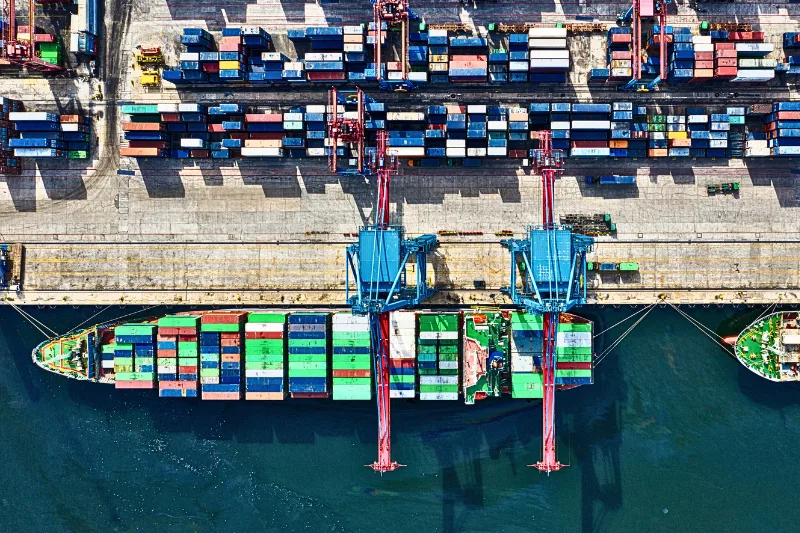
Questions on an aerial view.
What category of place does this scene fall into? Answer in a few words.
port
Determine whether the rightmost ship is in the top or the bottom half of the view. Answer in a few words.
bottom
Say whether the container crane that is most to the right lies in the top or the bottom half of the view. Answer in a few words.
top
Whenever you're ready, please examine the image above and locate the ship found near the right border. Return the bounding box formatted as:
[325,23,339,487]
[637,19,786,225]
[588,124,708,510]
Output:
[721,314,800,388]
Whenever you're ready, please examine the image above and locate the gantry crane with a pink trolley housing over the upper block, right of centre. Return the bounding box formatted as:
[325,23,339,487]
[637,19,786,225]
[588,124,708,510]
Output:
[615,0,667,93]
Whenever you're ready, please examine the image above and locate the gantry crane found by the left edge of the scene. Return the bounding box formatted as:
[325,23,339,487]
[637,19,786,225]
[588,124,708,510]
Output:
[2,0,88,76]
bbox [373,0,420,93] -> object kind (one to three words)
container crane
